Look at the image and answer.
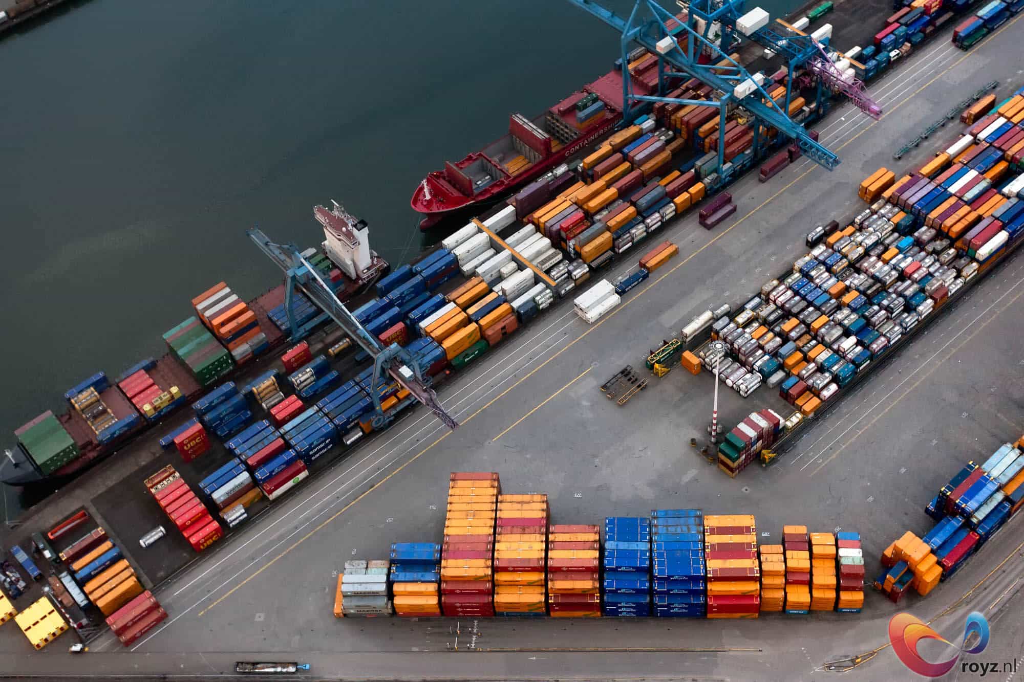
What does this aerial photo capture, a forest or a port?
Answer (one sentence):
What you see here is a port.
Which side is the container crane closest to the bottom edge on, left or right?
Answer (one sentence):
You can find the container crane closest to the bottom edge on the left side of the picture.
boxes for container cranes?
[674,0,884,137]
[561,0,844,188]
[238,224,465,435]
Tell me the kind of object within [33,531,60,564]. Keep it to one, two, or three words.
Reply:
truck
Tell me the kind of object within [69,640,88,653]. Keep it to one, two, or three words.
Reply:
vehicle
